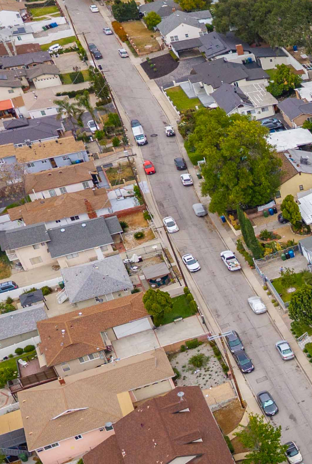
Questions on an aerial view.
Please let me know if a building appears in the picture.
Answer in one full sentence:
Yes, a building can be made out from above.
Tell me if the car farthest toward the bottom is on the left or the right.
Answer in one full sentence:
It is on the right.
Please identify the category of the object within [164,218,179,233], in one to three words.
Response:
car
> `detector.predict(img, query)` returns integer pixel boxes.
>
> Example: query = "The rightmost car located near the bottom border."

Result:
[282,441,305,464]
